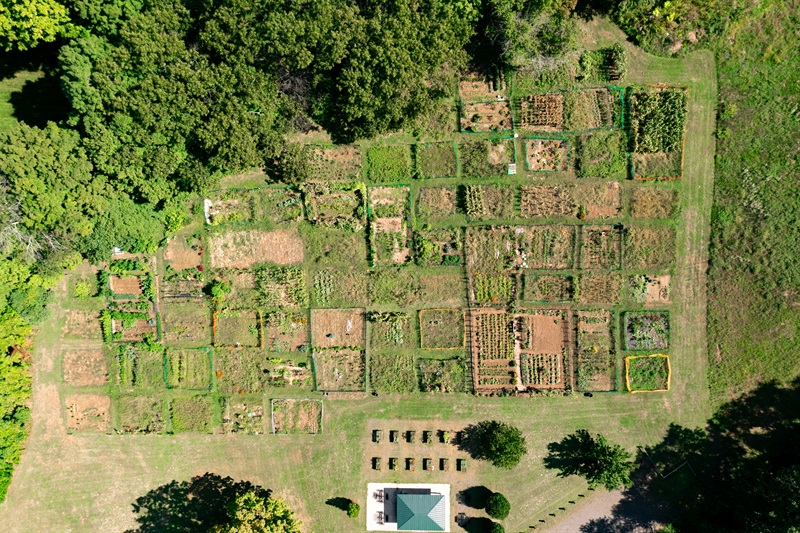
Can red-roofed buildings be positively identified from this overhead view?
No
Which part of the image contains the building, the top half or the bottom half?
bottom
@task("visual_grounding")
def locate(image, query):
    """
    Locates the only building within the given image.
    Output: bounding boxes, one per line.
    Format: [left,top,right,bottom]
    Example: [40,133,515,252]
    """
[397,491,445,531]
